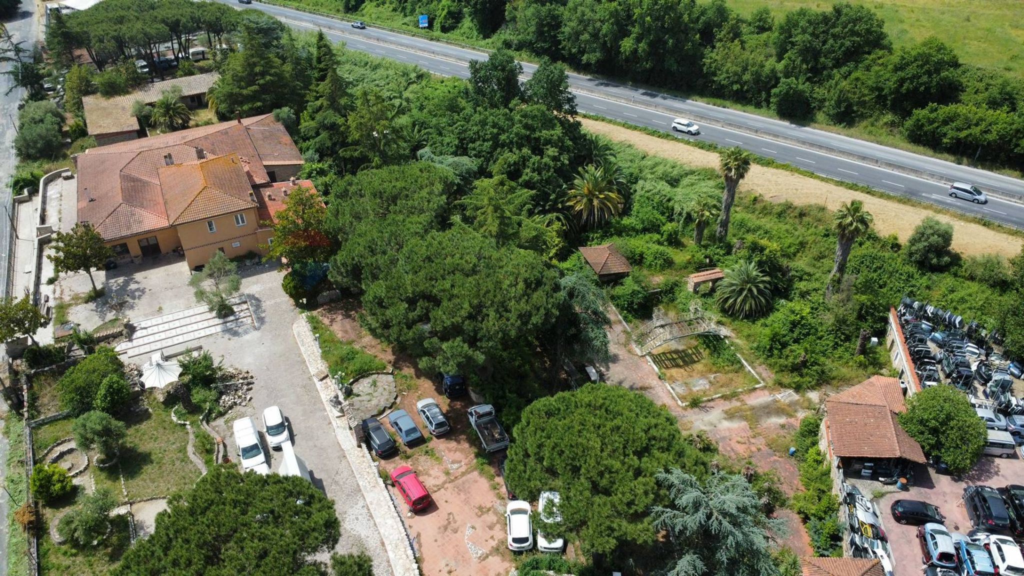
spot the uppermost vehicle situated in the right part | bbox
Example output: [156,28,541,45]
[671,118,699,135]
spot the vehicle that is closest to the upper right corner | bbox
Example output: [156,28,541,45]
[947,182,987,204]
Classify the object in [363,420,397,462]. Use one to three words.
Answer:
car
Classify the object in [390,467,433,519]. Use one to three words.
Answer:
car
